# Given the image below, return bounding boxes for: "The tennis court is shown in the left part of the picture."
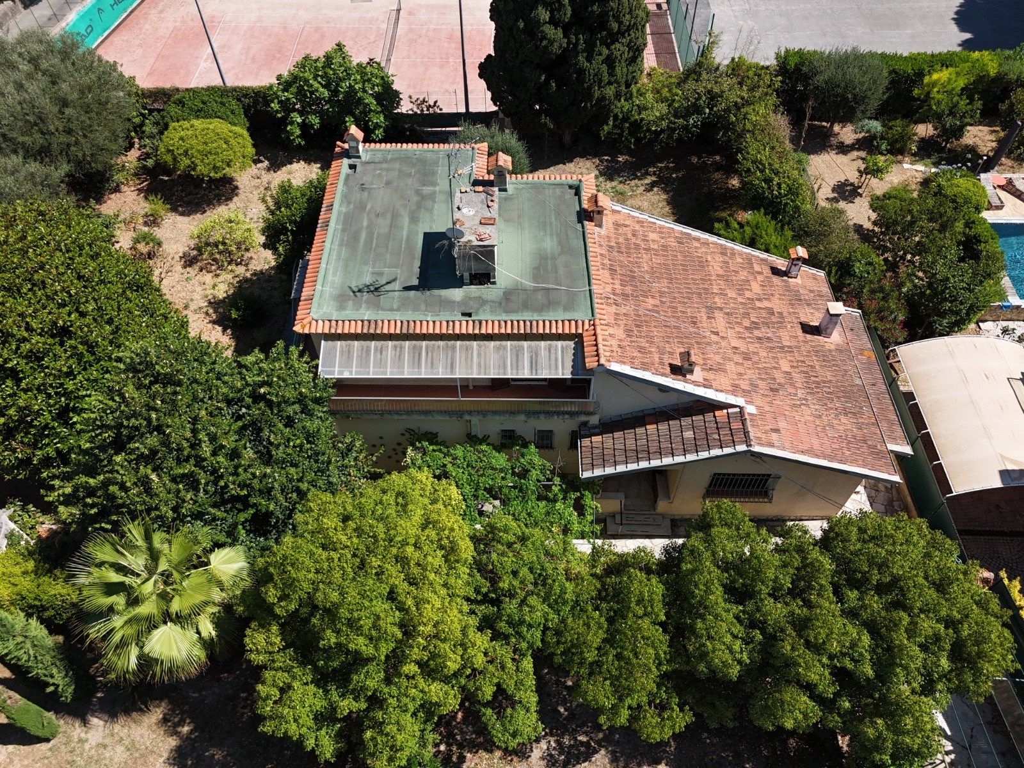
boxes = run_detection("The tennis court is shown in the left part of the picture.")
[56,0,677,125]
